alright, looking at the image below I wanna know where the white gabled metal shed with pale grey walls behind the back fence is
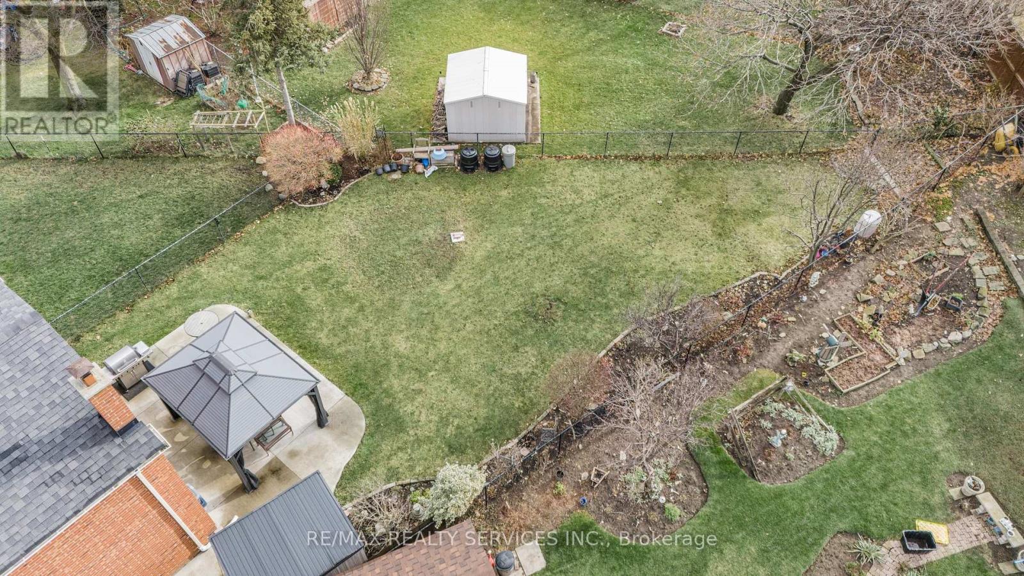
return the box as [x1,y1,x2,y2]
[443,43,529,141]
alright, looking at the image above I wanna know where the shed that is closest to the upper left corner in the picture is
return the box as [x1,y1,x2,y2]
[126,16,208,93]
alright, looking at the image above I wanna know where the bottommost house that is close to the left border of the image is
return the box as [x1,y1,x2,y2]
[0,283,245,576]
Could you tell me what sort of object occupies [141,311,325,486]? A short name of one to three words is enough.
gazebo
